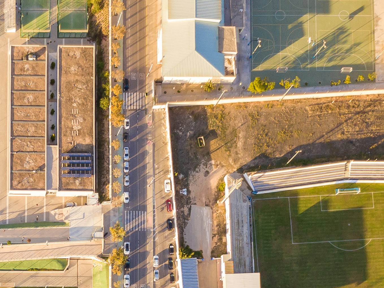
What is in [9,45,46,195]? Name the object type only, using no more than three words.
building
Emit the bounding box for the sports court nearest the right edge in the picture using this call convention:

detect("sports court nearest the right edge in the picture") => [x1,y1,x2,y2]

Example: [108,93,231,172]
[249,0,375,88]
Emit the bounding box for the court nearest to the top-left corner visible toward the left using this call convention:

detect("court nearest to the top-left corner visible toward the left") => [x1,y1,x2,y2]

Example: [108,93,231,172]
[22,0,51,35]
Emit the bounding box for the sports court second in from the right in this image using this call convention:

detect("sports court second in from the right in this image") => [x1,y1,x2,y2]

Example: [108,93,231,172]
[58,0,88,35]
